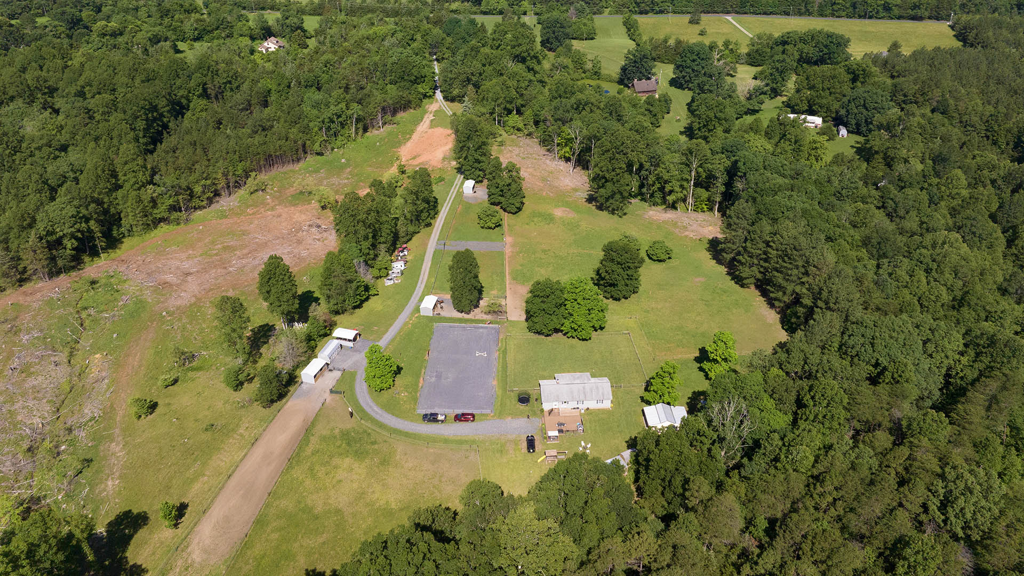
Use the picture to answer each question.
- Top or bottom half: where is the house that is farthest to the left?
top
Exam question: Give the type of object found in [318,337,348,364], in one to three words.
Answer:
barn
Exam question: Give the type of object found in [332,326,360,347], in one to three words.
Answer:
barn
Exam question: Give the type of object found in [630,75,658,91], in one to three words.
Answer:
house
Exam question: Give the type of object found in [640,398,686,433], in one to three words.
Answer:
shed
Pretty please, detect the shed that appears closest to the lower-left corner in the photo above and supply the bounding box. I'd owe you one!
[300,357,326,384]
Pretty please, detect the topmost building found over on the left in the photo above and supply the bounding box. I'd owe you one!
[256,33,288,53]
